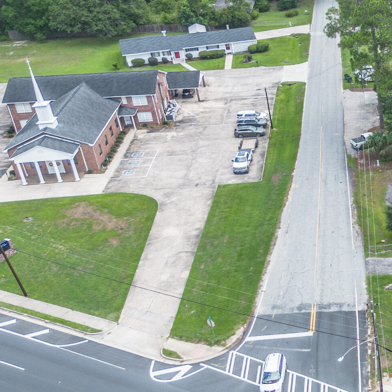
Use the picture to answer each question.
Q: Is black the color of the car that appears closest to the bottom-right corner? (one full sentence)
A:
No, the color of the car that appears closest to the bottom-right corner is white.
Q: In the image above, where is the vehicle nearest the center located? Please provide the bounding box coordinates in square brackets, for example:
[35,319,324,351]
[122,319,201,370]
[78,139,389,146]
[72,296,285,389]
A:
[232,149,251,170]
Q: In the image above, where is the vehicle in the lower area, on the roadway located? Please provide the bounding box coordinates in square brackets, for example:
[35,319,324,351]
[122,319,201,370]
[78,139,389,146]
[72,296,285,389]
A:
[251,356,285,392]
